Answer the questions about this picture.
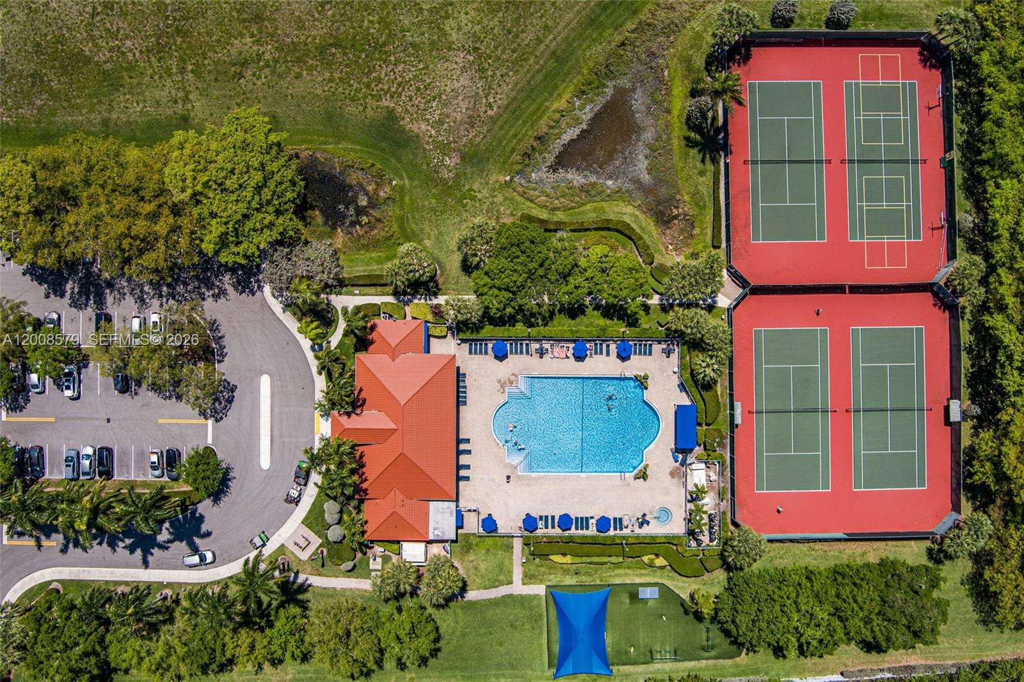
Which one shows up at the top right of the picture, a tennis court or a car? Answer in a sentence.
The one visible at the top right of the picture is a tennis court.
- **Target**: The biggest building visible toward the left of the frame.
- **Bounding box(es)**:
[328,319,462,541]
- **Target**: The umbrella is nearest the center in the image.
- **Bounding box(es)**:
[491,341,508,357]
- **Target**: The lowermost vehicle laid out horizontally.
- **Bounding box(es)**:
[182,550,218,566]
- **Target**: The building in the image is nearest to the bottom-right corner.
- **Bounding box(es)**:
[690,459,705,486]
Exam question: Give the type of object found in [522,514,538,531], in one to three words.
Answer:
umbrella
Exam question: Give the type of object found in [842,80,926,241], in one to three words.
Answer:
tennis court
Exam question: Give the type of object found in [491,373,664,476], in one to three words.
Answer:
swimming pool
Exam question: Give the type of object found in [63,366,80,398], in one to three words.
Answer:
car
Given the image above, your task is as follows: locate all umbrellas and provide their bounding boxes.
[481,516,497,532]
[557,513,573,530]
[595,515,611,532]
[616,341,632,357]
[491,341,508,357]
[572,341,588,358]
[522,514,538,531]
